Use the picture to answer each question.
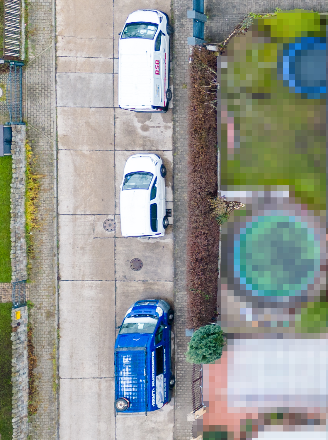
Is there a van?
Yes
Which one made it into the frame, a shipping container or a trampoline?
trampoline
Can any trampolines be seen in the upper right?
Yes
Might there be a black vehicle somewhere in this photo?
No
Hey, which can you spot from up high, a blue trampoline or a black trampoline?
blue trampoline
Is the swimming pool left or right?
right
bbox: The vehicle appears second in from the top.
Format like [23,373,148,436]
[119,151,172,239]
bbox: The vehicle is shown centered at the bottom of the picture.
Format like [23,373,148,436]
[113,298,177,416]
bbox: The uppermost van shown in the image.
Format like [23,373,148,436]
[118,9,176,115]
